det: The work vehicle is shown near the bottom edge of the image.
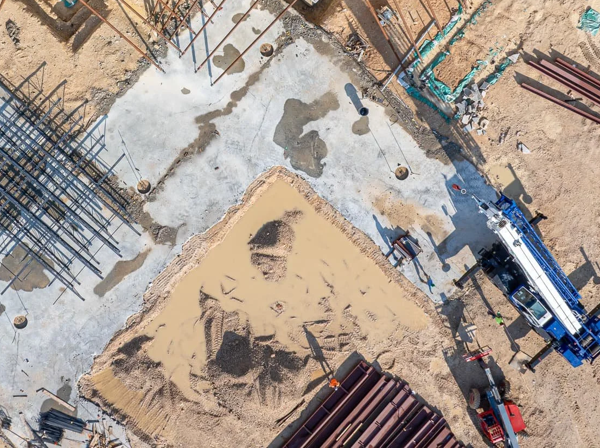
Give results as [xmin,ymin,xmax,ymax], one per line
[463,333,533,448]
